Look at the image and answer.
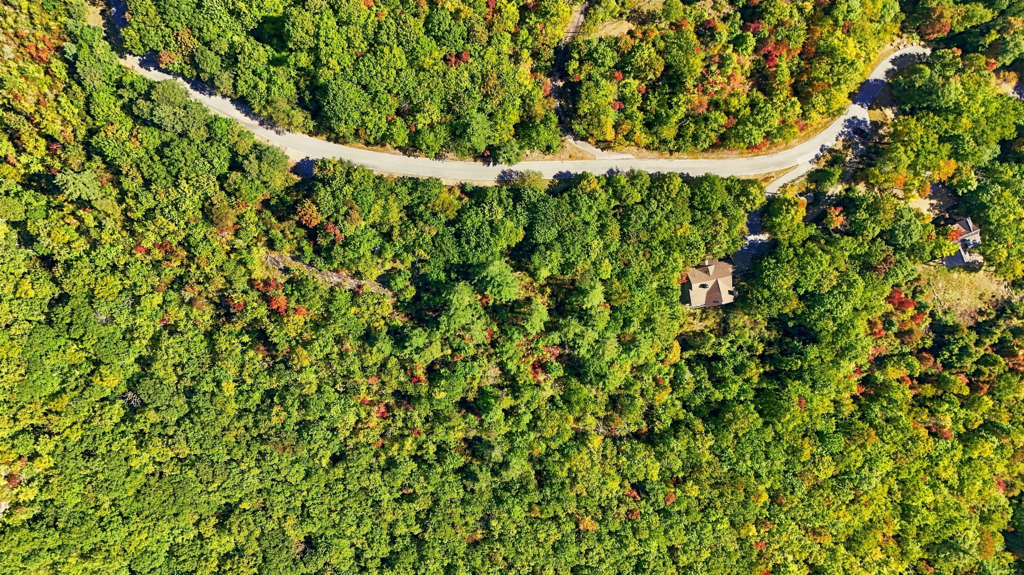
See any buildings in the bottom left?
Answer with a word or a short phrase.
No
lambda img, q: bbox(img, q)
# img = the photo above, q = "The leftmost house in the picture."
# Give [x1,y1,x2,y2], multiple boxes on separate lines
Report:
[684,257,740,310]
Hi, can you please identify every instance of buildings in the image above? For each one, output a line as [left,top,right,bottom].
[684,257,740,310]
[940,216,980,272]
